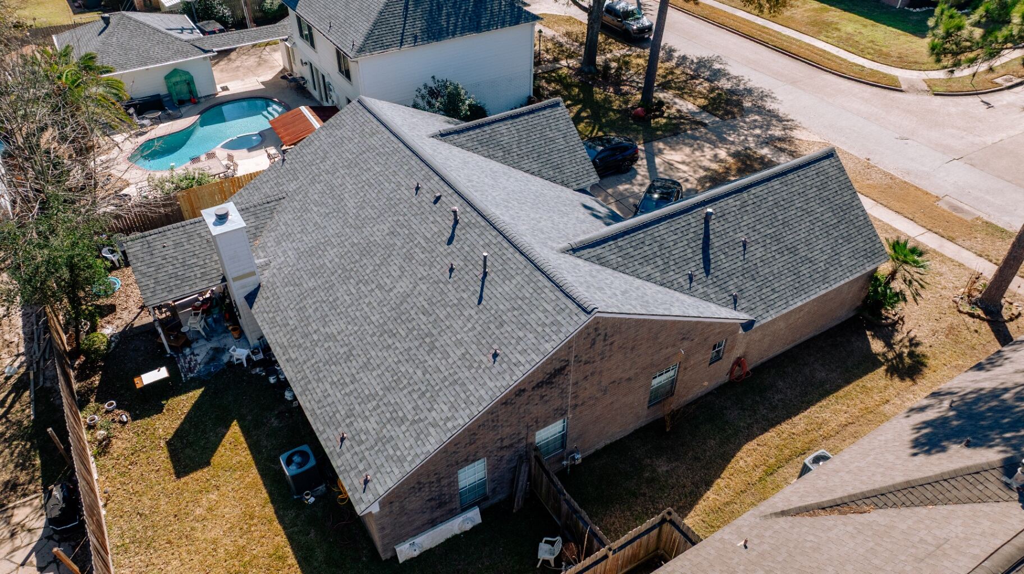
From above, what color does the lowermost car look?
black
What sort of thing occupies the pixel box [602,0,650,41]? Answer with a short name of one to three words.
truck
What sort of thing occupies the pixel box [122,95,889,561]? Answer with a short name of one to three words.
house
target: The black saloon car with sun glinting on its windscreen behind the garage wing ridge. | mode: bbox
[616,172,683,224]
